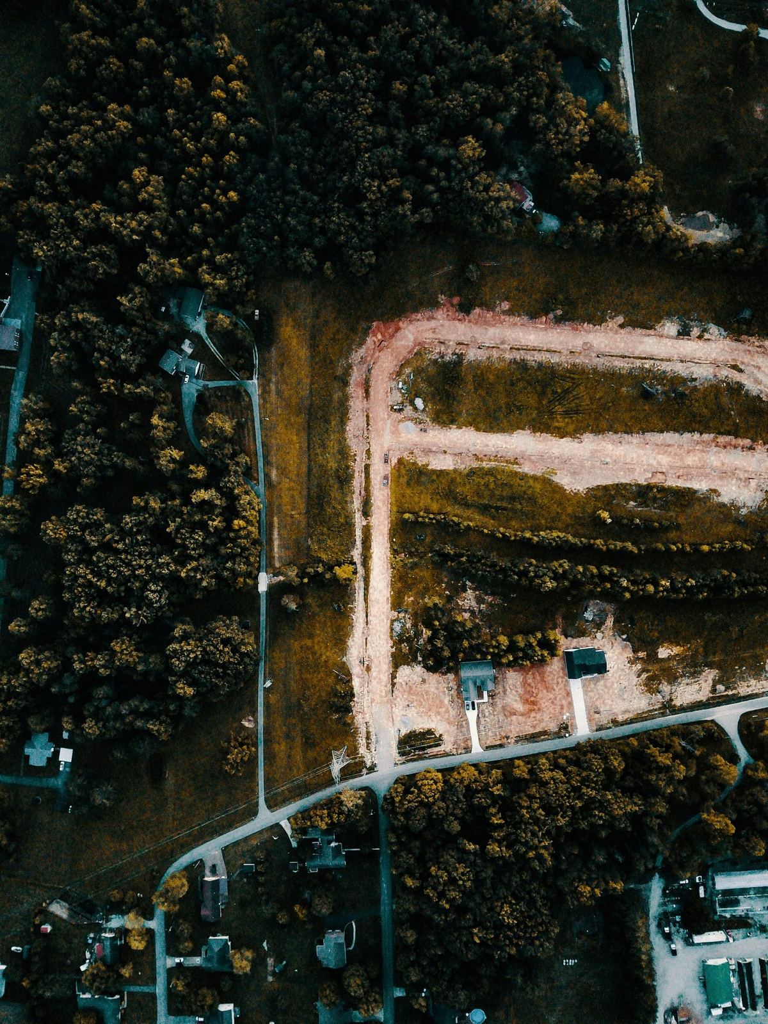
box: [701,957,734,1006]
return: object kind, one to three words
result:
building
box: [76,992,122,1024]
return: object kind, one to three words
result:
house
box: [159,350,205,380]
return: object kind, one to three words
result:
house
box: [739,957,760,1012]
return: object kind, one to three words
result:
shed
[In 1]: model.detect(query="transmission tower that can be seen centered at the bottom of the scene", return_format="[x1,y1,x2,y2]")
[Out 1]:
[331,745,351,788]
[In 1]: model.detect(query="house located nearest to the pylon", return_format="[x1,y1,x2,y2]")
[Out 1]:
[303,828,346,872]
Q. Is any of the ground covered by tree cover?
Yes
